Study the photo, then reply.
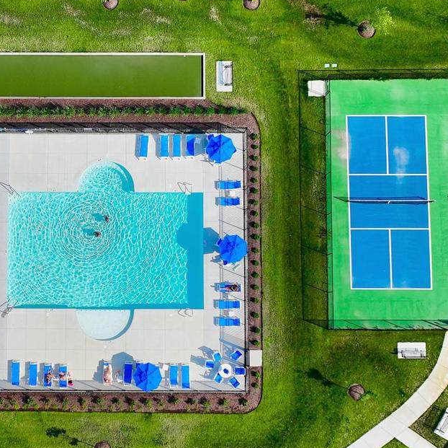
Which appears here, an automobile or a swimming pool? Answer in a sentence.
The image shows a swimming pool.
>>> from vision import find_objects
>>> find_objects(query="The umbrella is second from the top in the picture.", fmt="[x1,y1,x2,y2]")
[215,233,246,265]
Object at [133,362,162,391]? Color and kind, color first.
blue umbrella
